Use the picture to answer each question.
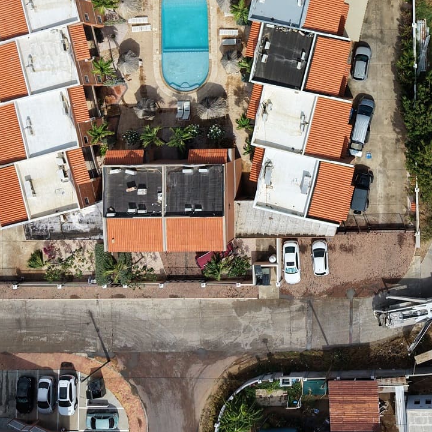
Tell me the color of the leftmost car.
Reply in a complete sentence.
The leftmost car is black.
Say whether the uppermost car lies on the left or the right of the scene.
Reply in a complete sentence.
The uppermost car appears in the right half of the scene.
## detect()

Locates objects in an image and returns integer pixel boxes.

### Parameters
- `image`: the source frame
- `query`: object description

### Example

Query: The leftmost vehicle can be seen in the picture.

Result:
[14,374,36,413]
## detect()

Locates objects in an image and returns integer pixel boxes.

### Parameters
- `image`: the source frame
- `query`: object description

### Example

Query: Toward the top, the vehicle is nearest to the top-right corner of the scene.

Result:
[352,42,374,82]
